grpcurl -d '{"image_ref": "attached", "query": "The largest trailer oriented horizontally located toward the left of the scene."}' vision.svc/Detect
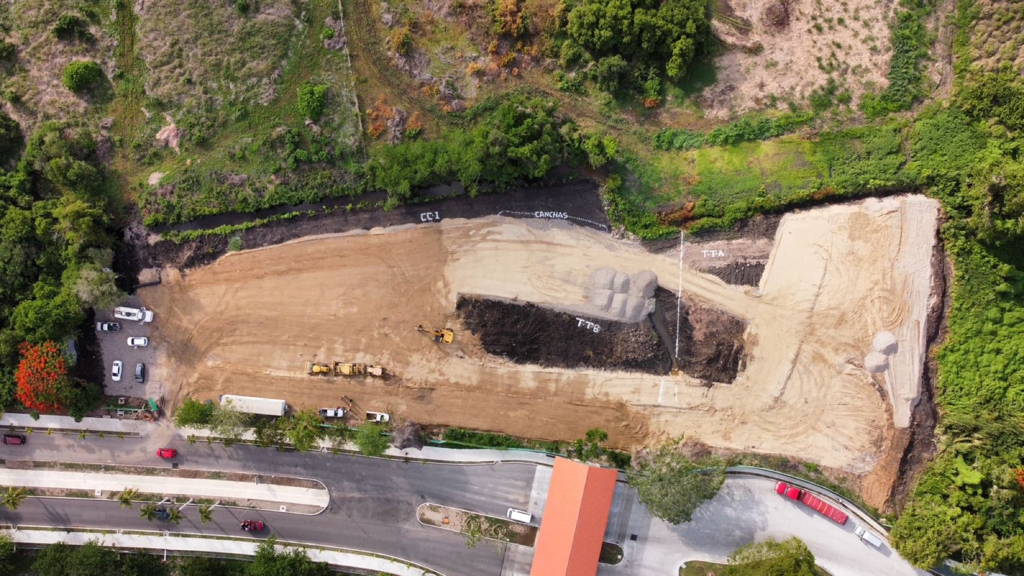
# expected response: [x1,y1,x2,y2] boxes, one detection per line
[221,393,293,415]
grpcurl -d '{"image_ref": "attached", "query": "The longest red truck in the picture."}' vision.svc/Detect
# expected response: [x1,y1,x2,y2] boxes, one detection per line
[773,480,849,525]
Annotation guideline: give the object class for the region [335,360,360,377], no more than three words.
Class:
work vehicle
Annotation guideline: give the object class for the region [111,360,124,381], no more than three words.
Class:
vehicle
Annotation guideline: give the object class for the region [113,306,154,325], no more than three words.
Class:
vehicle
